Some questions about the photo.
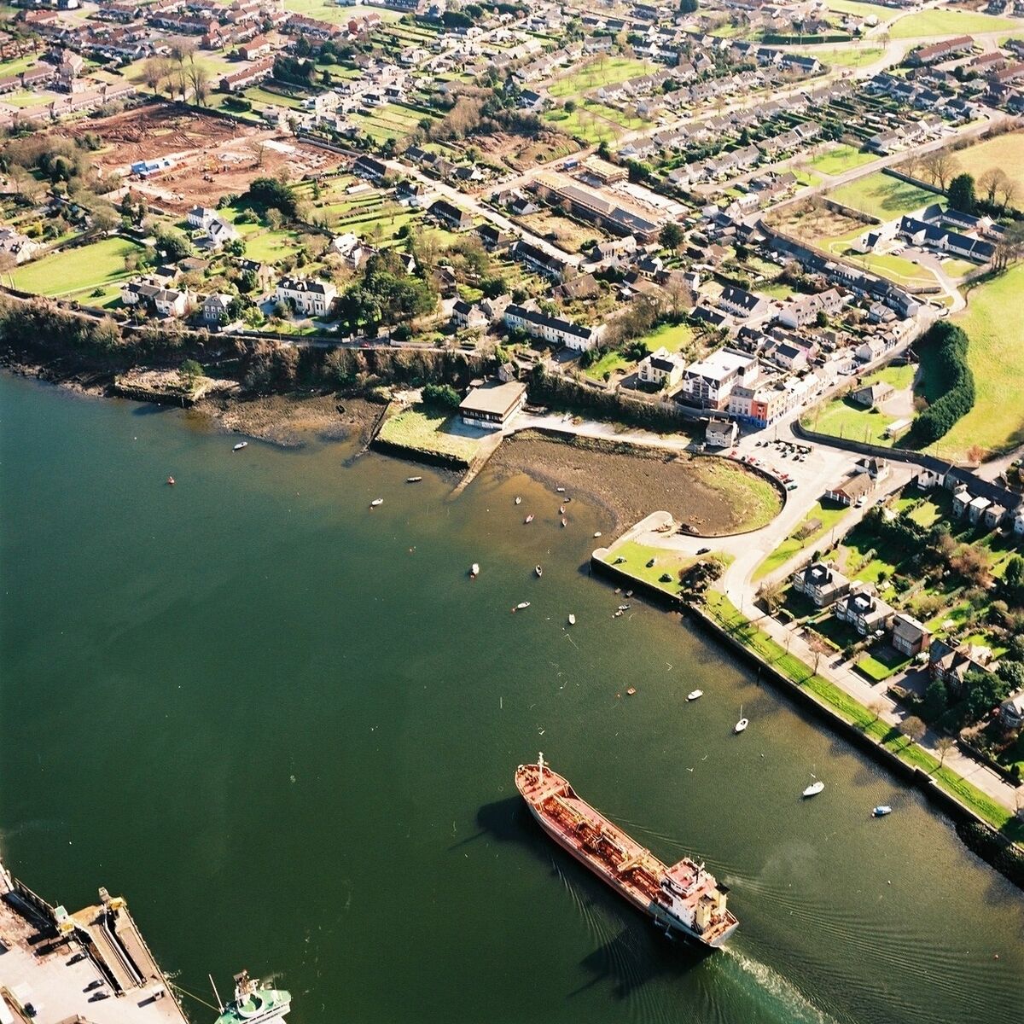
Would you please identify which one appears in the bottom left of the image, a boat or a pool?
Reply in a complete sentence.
What appears in the bottom left of the image is a boat.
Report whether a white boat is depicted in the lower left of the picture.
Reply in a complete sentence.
Yes, a white boat can be seen in the lower left of the picture.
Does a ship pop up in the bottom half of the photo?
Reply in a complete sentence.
Yes, a ship appears in the bottom half of the photo.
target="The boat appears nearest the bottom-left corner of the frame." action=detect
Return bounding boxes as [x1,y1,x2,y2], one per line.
[200,976,299,1024]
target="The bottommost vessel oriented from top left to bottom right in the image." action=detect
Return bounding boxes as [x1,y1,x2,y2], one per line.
[513,757,743,962]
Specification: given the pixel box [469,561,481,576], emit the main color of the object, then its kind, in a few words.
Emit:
white boat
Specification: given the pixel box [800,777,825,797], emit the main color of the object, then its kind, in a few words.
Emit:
white boat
